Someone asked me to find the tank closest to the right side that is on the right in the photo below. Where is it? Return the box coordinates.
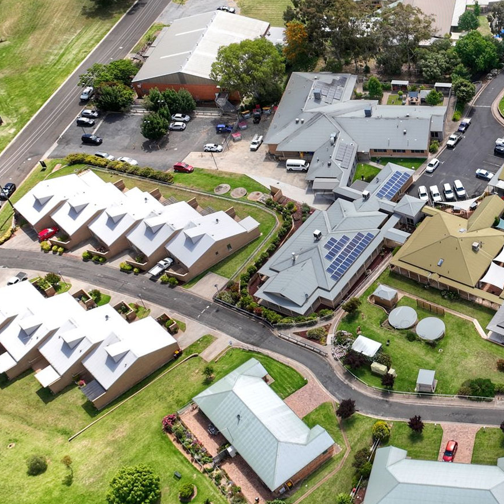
[416,317,445,343]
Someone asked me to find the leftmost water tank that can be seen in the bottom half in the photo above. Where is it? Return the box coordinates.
[388,307,417,333]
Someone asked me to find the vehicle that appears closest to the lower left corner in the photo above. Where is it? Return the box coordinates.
[2,267,33,288]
